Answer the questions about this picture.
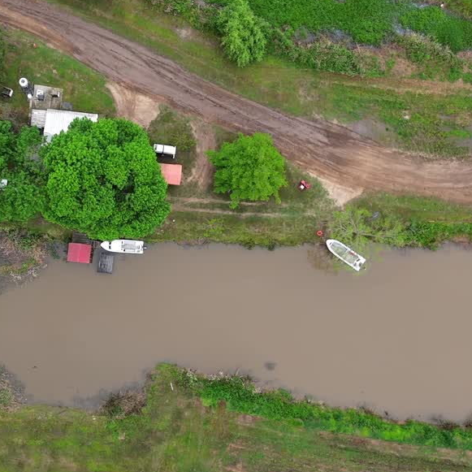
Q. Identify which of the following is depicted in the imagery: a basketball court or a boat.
boat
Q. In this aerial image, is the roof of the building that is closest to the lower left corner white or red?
red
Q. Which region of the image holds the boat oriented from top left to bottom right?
right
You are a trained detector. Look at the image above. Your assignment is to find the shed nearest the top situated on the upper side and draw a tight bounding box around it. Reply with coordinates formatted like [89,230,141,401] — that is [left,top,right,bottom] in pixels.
[32,84,65,112]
